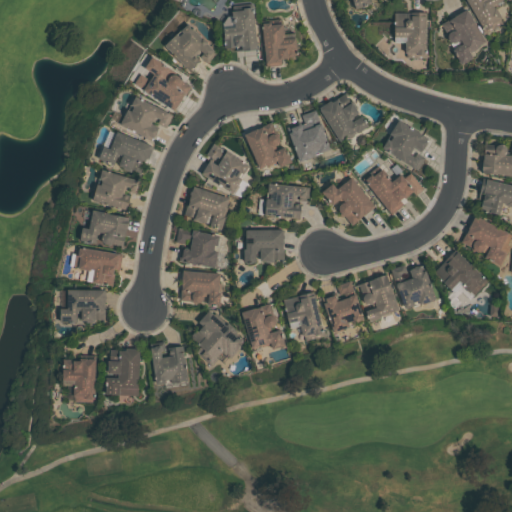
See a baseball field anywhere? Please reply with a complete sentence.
No, no baseball field is visible in the view.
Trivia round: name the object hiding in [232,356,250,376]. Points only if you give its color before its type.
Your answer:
blue swimming pool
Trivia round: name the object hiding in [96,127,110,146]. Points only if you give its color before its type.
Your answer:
blue swimming pool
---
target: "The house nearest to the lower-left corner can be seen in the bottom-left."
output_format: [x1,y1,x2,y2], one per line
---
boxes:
[62,355,97,404]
